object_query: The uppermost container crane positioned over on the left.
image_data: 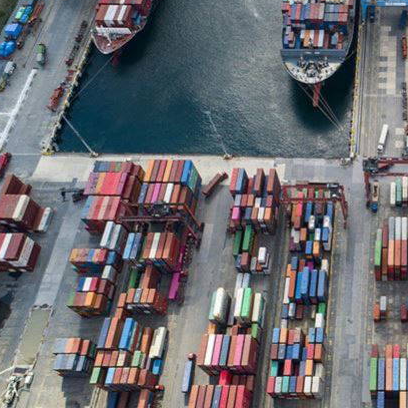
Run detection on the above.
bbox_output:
[113,201,201,249]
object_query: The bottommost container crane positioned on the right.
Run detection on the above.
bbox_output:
[275,182,346,229]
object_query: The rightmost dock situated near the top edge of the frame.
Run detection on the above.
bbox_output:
[350,0,408,159]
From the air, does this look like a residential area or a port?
port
